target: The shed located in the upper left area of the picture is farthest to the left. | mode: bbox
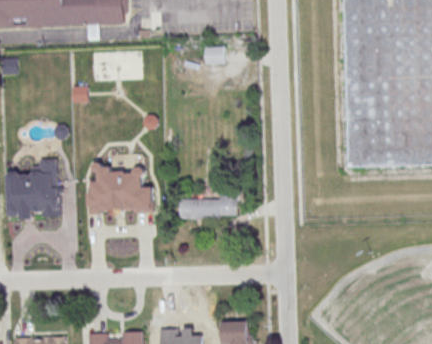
[1,58,20,76]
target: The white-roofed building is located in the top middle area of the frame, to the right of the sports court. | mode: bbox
[204,47,228,66]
